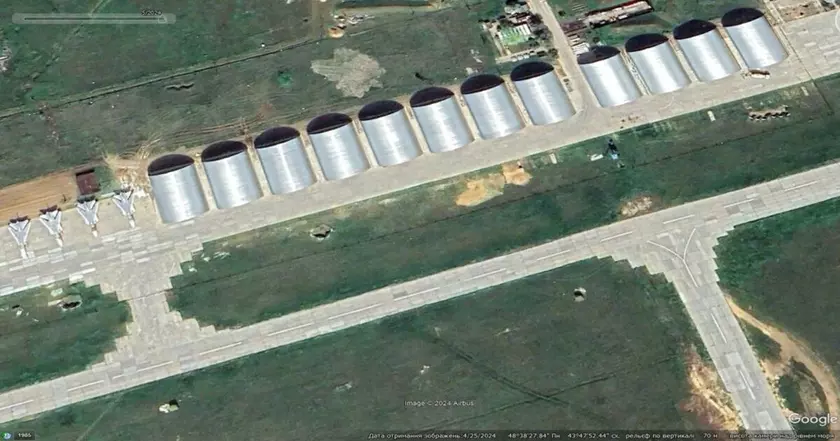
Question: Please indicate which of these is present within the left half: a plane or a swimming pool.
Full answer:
The feature located within the left half is a plane.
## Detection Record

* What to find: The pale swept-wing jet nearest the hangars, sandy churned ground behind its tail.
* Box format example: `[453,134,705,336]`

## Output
[112,188,134,229]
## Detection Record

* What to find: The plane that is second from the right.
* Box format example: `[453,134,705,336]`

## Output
[77,196,99,237]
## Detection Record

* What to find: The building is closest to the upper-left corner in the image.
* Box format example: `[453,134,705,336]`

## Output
[75,170,101,197]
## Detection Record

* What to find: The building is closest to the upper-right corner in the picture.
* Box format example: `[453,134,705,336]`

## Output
[722,15,789,70]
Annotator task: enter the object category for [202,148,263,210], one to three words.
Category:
hangar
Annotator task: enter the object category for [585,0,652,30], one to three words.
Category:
shed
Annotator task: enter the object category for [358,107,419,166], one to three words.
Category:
hangar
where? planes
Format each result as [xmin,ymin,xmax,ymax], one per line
[41,207,63,248]
[77,196,99,237]
[112,188,134,229]
[8,219,30,260]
